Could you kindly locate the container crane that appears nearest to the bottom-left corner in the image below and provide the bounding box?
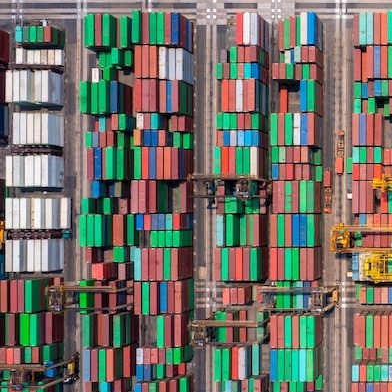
[0,350,83,392]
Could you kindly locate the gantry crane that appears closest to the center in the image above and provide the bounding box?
[186,173,278,204]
